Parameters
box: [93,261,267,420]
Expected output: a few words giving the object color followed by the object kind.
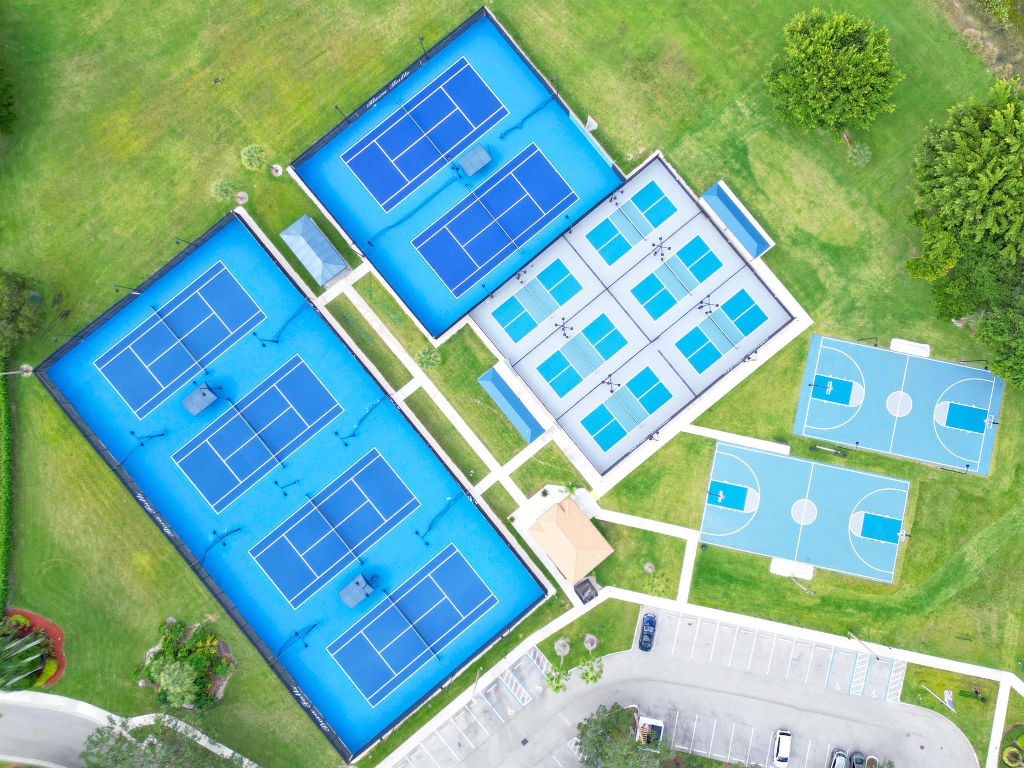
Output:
blue tennis court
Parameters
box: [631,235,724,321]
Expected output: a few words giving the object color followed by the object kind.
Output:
blue sports court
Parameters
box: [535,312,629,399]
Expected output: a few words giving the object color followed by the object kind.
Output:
blue sports court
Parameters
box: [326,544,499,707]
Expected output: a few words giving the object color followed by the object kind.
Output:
blue tennis court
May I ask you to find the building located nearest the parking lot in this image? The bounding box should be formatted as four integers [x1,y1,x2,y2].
[528,496,615,586]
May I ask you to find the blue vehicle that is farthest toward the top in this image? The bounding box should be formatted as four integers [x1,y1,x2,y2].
[640,615,656,650]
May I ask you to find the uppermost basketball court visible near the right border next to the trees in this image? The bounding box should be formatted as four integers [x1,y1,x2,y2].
[793,335,1005,477]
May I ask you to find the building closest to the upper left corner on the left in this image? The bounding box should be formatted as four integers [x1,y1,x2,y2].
[279,214,348,287]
